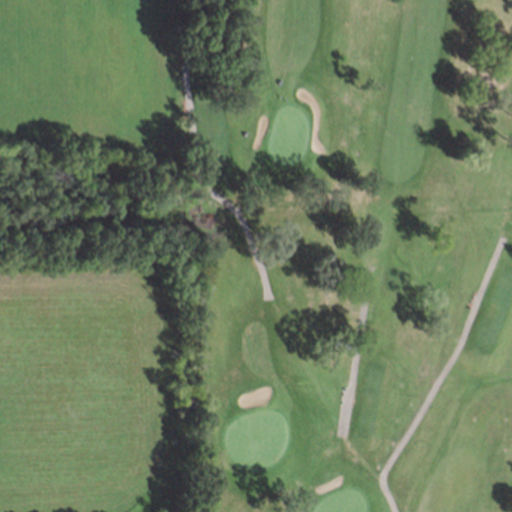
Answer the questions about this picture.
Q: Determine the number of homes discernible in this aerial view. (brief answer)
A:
none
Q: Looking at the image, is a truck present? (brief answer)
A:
No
